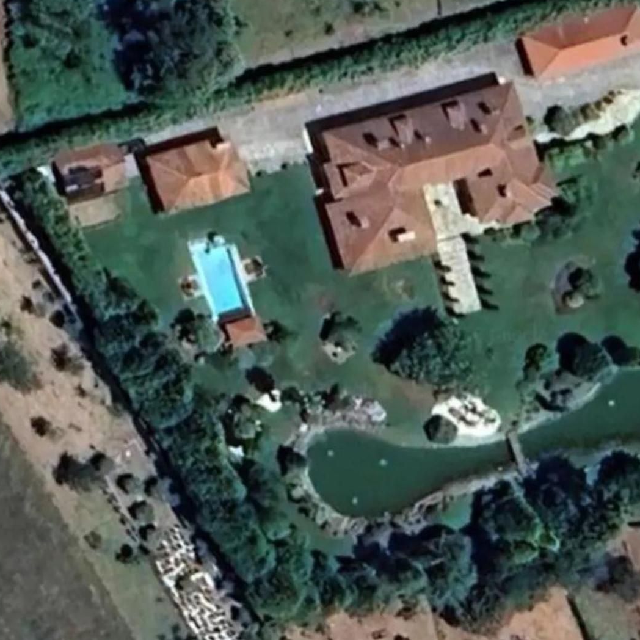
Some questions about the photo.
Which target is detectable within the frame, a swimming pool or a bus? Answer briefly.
swimming pool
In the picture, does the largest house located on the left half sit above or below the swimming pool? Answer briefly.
above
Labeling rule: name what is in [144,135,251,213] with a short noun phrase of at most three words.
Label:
house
